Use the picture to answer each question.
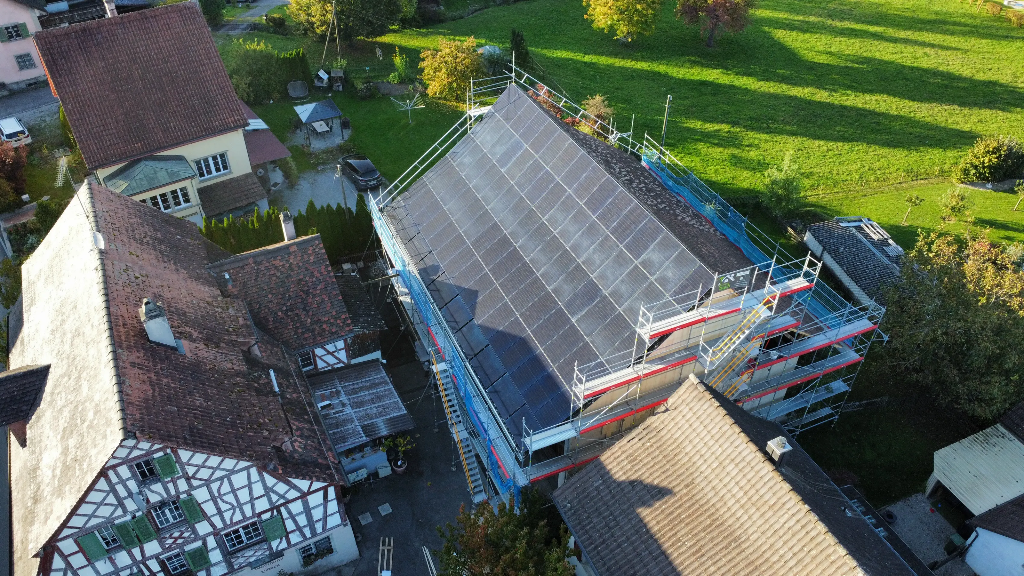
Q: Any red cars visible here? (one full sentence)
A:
No, the photo shows no red car.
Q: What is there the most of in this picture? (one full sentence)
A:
Most of the picture is covered by buildings.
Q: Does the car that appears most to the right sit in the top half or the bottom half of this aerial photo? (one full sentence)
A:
You can find the car that appears most to the right in the top half.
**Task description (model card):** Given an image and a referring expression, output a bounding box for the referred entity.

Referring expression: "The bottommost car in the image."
[338,152,379,189]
